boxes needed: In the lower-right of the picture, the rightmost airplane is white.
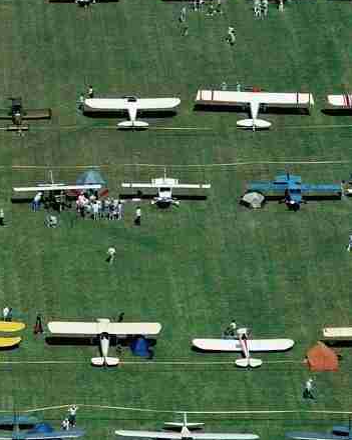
[322,326,352,344]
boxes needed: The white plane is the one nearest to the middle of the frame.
[122,170,211,209]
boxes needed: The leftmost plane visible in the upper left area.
[0,100,53,134]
